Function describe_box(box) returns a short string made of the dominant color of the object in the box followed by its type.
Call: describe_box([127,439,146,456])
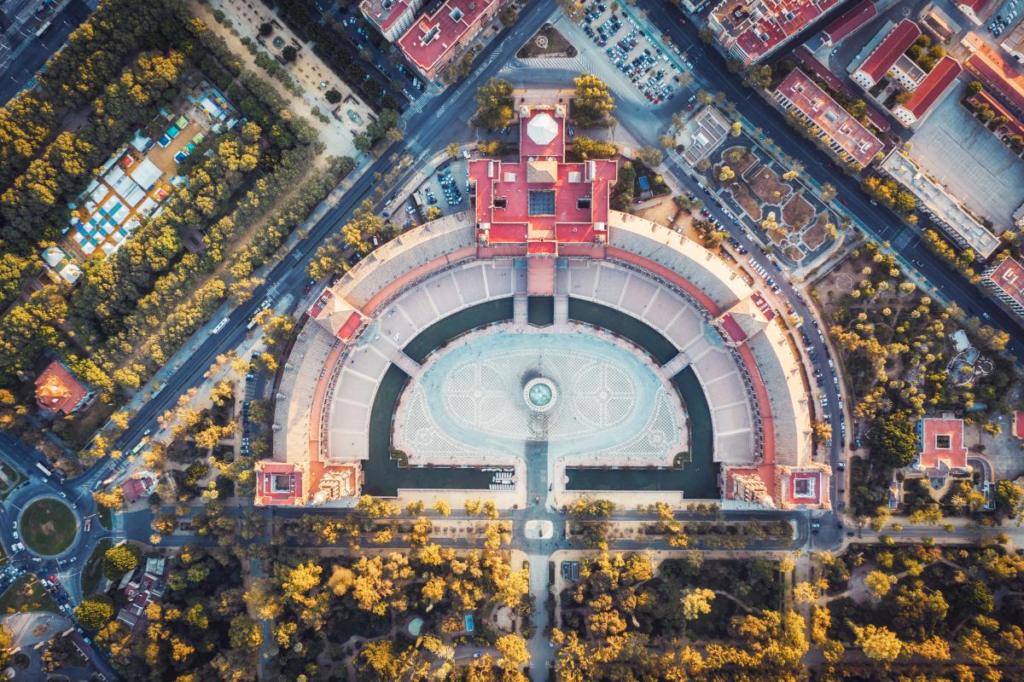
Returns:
white vehicle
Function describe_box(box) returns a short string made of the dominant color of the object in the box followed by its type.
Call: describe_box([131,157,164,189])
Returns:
white tent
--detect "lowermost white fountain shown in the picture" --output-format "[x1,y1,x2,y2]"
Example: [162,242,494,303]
[522,377,556,411]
